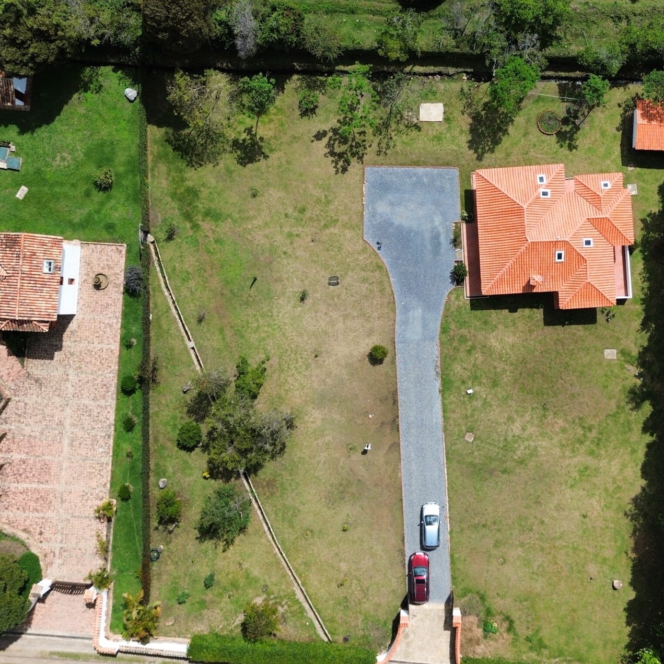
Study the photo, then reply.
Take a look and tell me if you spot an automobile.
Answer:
Yes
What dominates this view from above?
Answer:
grass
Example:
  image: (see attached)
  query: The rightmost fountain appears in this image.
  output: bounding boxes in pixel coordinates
[90,273,109,288]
